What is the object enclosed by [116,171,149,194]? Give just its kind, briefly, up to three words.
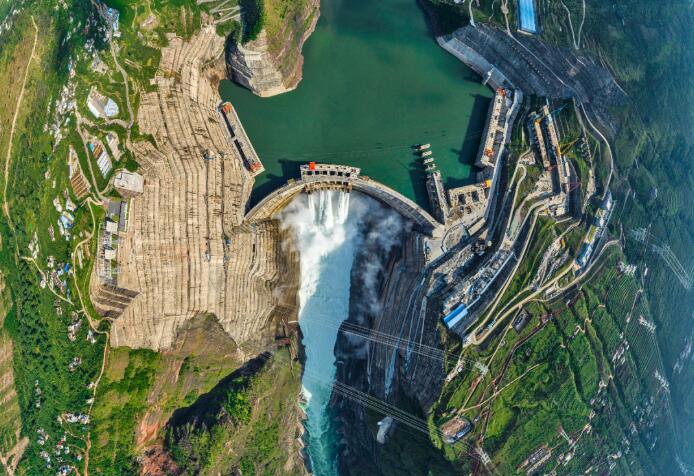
building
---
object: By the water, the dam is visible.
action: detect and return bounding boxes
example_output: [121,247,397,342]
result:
[239,166,443,243]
